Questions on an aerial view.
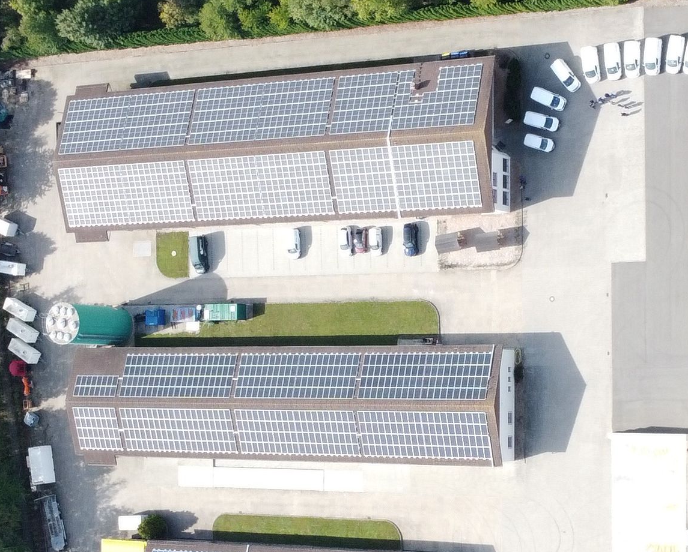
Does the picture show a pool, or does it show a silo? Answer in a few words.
silo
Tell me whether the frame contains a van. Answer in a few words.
Yes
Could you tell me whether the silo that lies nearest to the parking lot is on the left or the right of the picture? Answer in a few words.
left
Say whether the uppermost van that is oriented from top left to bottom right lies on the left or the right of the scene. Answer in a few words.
right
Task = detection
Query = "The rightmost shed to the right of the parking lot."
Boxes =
[473,233,502,252]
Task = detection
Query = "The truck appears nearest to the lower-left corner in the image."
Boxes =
[32,445,62,487]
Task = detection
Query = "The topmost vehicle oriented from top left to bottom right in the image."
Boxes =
[550,58,582,93]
